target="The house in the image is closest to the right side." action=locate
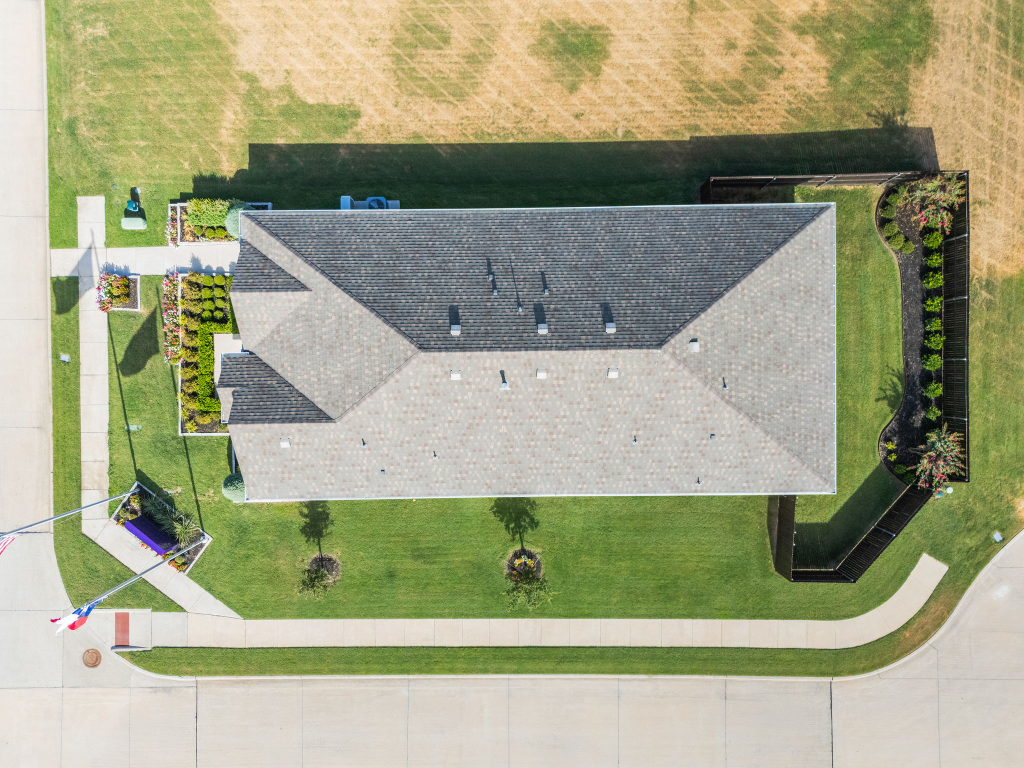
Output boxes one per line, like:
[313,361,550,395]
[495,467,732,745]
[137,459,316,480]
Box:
[215,203,835,501]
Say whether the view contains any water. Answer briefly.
No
